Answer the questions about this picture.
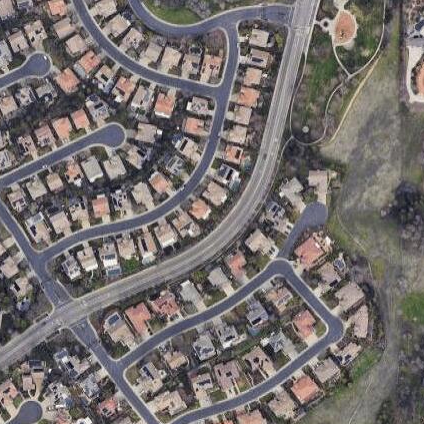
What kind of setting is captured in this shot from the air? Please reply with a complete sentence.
It's a residential area.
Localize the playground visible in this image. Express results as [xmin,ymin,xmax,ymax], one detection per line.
[332,6,357,47]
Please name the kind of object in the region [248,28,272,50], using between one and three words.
house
